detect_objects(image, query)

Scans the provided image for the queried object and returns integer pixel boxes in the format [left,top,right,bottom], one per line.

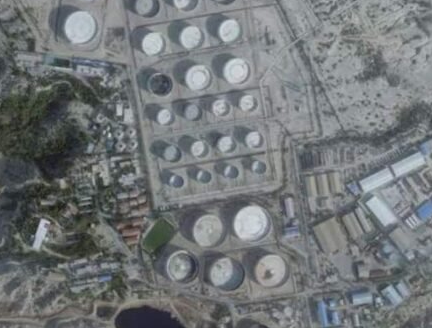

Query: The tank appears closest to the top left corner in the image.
[64,11,98,44]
